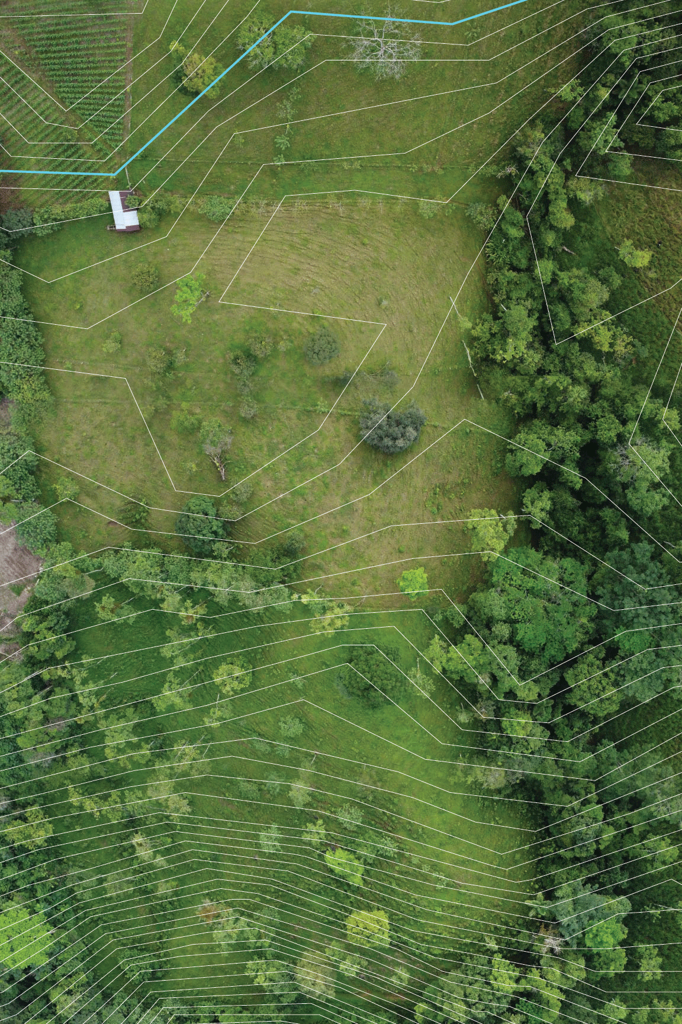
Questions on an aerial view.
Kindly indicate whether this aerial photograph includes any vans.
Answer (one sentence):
No, there isn't any van down there.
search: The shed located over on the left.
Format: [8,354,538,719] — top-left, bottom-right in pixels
[108,189,140,232]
